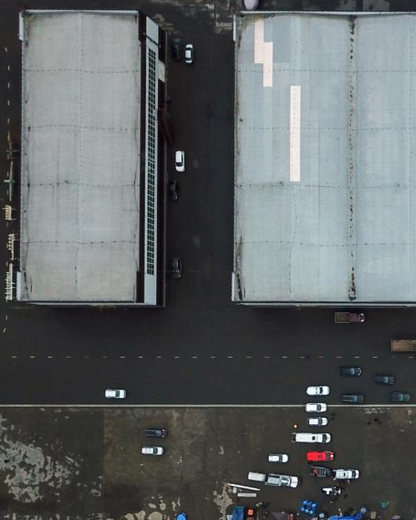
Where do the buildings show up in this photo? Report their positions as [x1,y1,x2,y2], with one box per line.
[229,10,416,309]
[13,9,168,307]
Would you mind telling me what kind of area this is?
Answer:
industrial area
